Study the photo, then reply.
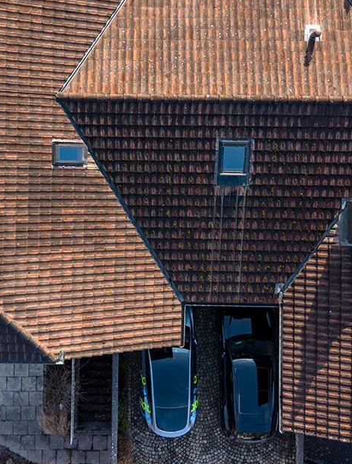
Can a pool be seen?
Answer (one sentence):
No, there is no pool in the image.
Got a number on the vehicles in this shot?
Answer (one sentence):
Altogether the scene contains 2 vehicles.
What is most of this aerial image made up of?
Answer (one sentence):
For the most part, this view shows buildings.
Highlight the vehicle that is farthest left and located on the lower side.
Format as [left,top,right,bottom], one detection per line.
[143,313,206,436]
